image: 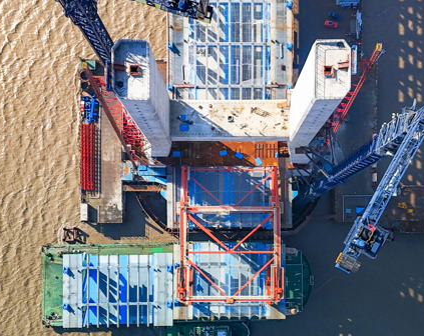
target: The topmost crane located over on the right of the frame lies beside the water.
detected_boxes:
[325,42,384,141]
